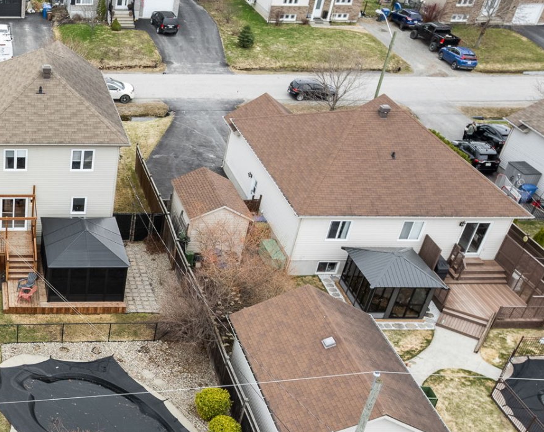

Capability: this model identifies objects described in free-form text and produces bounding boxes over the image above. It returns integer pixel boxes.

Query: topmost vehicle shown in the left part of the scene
[151,12,179,33]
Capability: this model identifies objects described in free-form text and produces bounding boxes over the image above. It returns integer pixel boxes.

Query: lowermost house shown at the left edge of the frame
[0,40,130,247]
